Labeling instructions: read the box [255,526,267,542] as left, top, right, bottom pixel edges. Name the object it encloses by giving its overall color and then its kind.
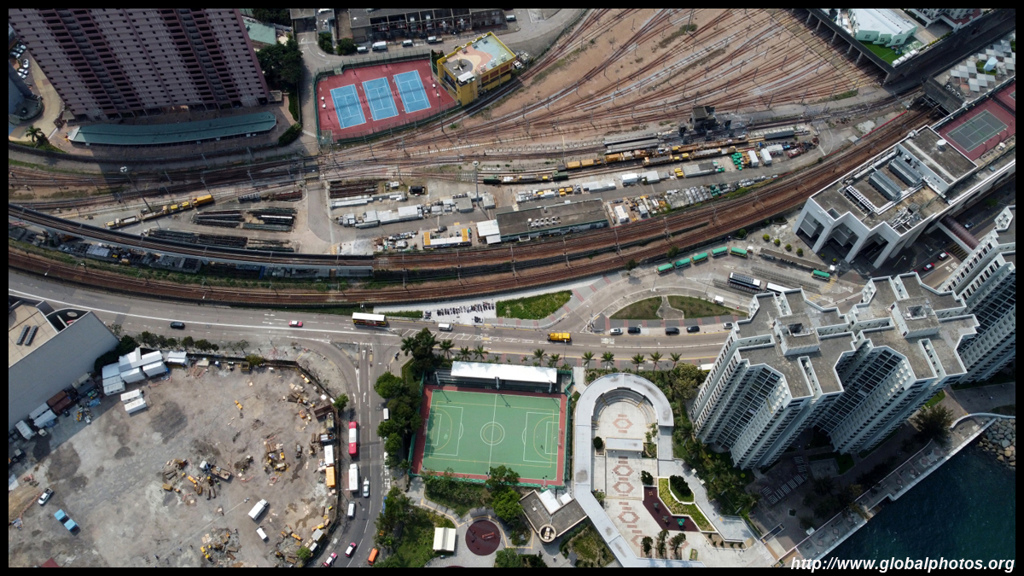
white vehicle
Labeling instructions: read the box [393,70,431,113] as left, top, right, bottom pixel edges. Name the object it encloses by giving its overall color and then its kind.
blue tennis court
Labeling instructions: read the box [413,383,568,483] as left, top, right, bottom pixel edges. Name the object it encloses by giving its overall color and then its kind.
green soccer field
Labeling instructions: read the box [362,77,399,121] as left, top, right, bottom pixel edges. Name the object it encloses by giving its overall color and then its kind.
blue tennis court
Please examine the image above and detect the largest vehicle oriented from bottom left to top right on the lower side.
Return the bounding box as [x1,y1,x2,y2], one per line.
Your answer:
[246,497,268,521]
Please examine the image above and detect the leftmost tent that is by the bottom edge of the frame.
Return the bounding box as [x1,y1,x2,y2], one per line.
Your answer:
[433,527,456,552]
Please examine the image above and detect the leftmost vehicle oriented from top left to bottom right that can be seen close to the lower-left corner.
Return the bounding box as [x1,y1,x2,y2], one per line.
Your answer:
[52,509,76,533]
